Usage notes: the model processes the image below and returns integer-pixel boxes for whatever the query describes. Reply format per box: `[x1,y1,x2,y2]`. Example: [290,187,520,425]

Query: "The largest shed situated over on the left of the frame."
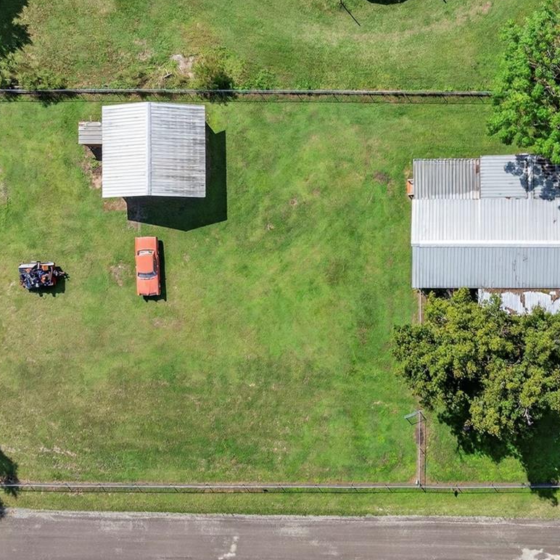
[102,101,209,197]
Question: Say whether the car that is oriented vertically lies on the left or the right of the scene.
left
